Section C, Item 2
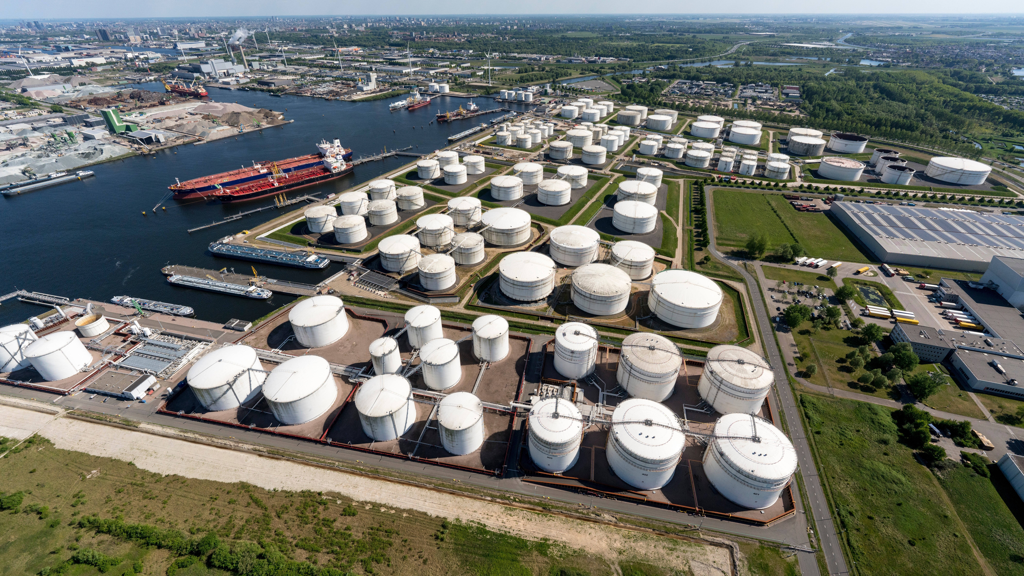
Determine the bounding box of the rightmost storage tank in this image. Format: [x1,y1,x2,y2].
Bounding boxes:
[922,157,993,185]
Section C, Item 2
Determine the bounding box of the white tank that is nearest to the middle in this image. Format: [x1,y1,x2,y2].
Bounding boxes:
[496,252,558,303]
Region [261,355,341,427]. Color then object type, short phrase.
white storage tank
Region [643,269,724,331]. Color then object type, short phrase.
white storage tank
